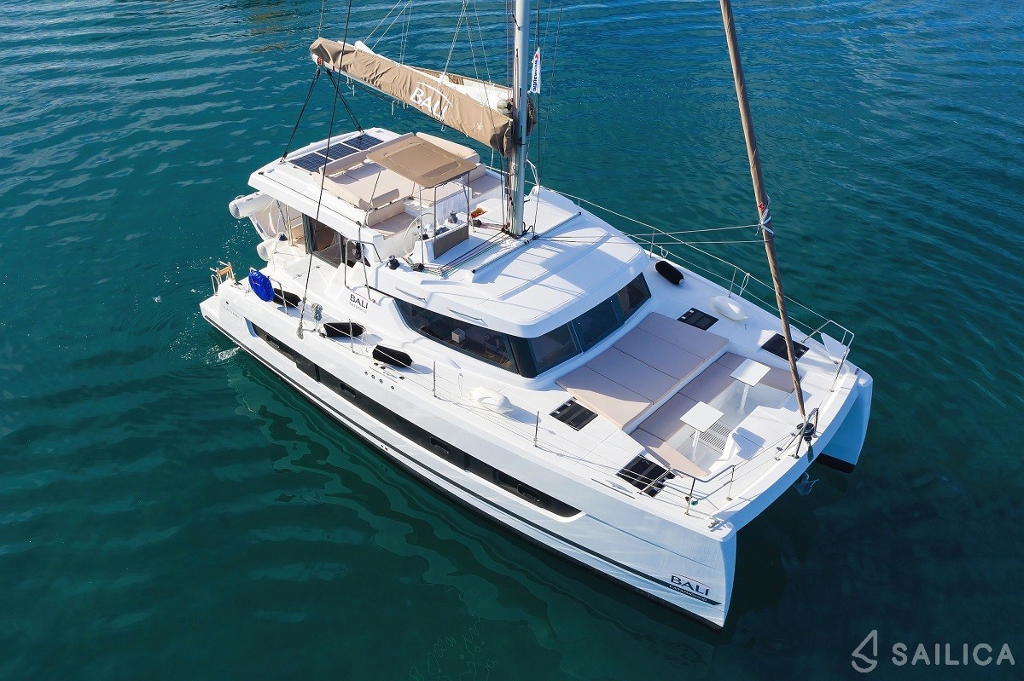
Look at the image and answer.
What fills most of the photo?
water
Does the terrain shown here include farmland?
No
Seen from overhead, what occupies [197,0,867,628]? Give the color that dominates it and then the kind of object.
white boat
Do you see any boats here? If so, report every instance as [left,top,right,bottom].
[197,0,867,628]
[231,188,303,255]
